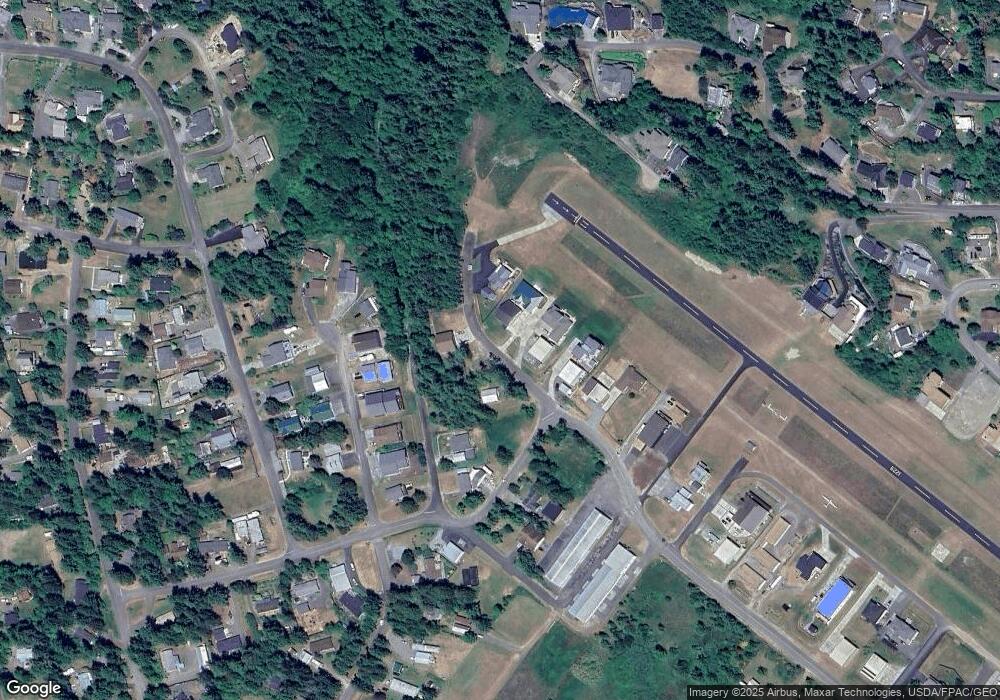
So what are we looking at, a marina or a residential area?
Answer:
residential area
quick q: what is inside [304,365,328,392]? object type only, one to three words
shed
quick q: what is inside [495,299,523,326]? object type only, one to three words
hangar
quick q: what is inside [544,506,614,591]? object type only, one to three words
building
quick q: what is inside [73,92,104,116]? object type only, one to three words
house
